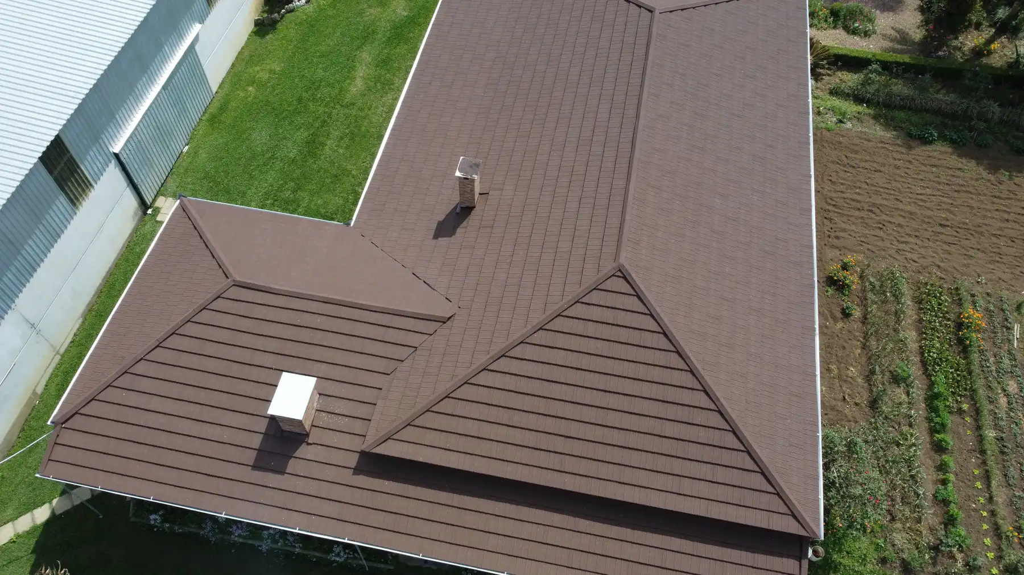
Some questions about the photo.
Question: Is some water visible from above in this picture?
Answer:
No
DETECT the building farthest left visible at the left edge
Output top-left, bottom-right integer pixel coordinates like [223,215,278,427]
[0,0,271,452]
